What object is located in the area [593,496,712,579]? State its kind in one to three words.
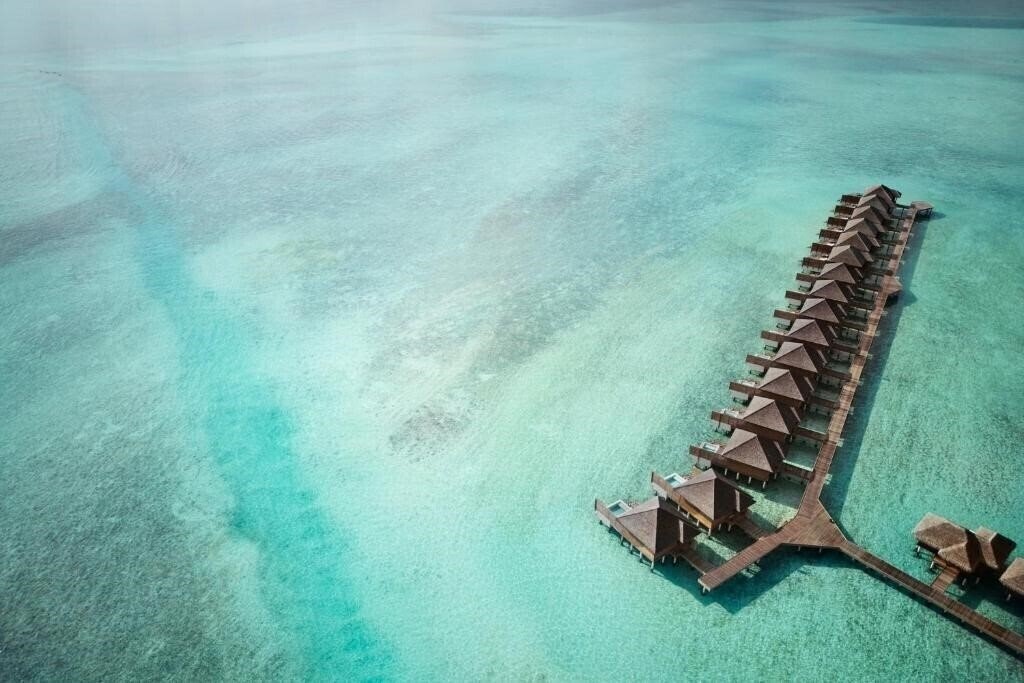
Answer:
house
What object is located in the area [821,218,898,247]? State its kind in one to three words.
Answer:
house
